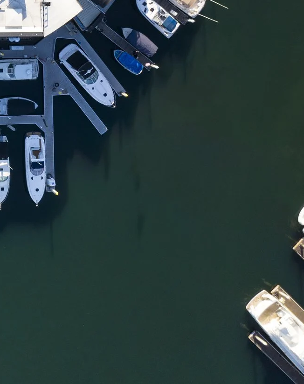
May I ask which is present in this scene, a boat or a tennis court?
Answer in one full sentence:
Of the two, only a boat appears.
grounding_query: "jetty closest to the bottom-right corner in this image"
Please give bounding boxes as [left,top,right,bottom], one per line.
[246,329,302,384]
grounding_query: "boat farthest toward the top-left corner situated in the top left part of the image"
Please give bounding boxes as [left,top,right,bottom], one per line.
[0,58,39,83]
